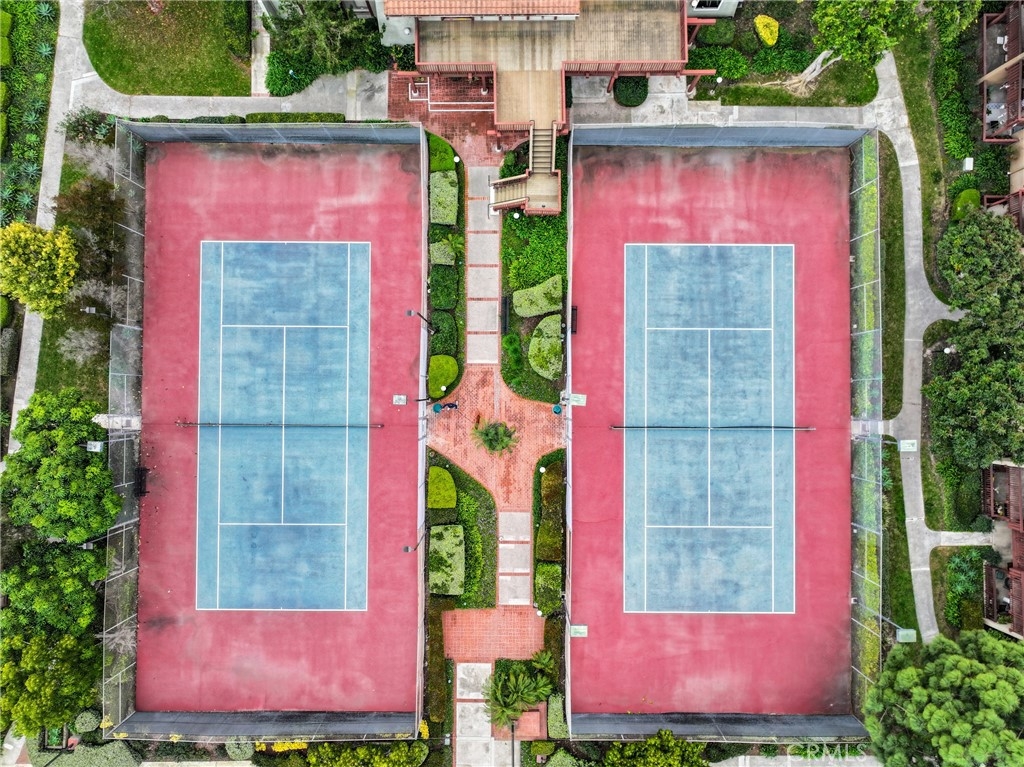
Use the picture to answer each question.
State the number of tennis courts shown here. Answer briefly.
two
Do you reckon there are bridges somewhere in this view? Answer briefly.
No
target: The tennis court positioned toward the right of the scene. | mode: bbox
[566,146,853,715]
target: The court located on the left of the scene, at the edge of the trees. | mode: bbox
[136,142,428,712]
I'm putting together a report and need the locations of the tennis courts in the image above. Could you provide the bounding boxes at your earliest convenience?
[136,142,428,712]
[566,146,853,715]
